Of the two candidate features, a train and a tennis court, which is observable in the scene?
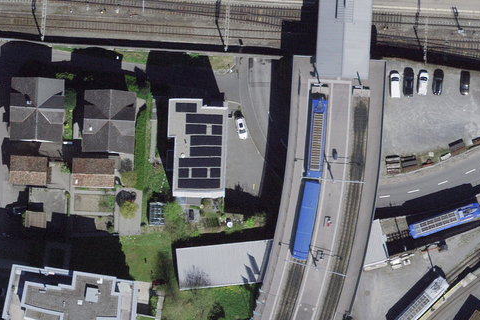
train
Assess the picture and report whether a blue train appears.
Yes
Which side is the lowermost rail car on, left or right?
right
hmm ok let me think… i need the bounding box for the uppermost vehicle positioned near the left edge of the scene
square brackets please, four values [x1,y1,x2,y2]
[7,204,30,216]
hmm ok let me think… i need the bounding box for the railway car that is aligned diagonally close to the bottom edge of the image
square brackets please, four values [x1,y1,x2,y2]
[396,276,448,320]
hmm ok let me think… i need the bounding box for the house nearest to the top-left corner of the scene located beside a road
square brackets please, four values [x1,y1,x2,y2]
[10,77,64,142]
